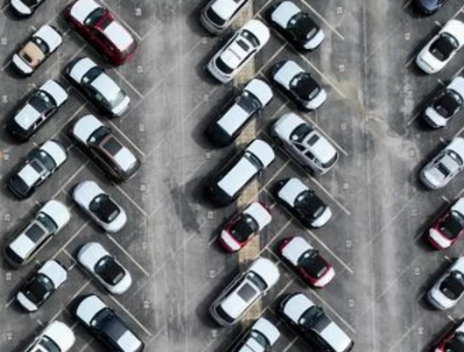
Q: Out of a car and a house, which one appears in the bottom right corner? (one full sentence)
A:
Looking in the bottom right corner, you will find a car.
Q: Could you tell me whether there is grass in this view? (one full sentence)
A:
No, there's no grass in this view.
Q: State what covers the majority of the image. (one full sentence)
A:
The largest share of the image is taken up by paved ground.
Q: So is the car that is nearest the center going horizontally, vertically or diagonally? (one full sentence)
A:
In this picture, the car that is nearest the center lies diagonally.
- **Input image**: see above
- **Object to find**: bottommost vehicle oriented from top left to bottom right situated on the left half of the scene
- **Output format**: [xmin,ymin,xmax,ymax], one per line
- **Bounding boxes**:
[76,296,146,352]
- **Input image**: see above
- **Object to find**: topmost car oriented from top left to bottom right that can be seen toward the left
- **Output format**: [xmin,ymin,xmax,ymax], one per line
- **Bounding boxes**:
[67,0,135,66]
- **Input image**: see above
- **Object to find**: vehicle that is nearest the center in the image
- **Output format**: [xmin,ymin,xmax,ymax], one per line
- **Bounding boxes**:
[206,141,275,207]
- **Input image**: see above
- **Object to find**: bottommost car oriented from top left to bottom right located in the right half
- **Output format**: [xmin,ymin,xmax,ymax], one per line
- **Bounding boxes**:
[279,294,350,352]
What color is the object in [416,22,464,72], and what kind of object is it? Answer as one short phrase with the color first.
white car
